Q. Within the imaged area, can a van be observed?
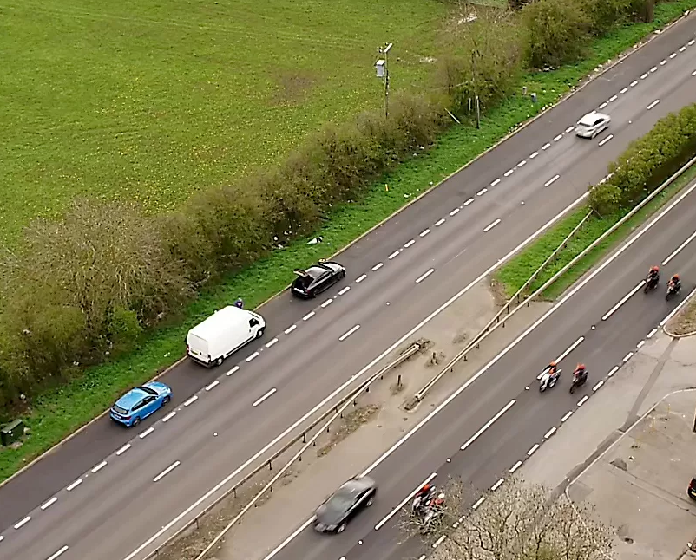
Yes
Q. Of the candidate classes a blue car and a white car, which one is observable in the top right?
white car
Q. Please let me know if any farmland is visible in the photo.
Yes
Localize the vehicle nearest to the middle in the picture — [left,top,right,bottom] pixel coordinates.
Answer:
[296,255,351,290]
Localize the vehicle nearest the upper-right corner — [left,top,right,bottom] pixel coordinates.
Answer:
[576,110,615,135]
